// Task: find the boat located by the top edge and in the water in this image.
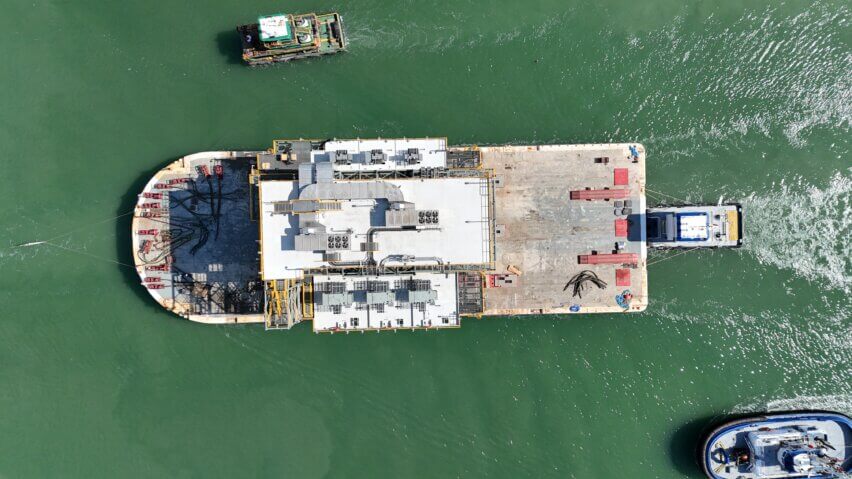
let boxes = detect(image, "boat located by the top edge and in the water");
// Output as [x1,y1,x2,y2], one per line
[240,9,343,69]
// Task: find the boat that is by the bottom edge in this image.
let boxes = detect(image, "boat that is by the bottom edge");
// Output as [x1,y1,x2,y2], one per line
[697,408,852,479]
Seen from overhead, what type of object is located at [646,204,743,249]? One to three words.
boat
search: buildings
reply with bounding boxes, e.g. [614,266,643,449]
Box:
[312,273,460,336]
[257,160,492,280]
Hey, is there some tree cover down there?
No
